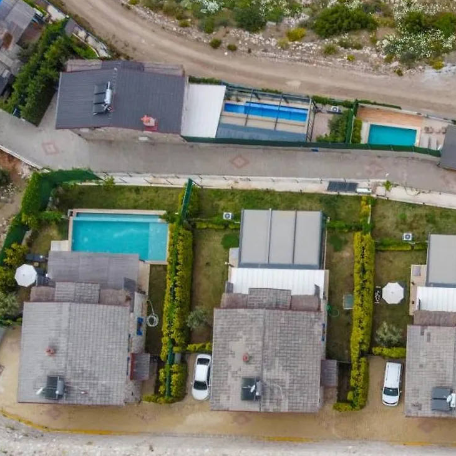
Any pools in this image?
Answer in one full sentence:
Yes, the frame does contain a pool.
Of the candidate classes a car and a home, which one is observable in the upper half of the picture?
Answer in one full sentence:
The feature located in the upper half of the picture is a home.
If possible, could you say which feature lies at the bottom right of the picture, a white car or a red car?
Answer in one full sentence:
You can see a white car at the bottom right of the picture.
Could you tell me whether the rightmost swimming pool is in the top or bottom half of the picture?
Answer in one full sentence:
Seen from above, the rightmost swimming pool lies in the top half of the view.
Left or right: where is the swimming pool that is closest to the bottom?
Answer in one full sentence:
You can find the swimming pool that is closest to the bottom on the left side of the picture.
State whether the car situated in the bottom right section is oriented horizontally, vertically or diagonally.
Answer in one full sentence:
Seen from above, the car situated in the bottom right section lies vertically.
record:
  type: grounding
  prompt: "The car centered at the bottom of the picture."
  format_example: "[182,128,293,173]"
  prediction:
[191,354,212,400]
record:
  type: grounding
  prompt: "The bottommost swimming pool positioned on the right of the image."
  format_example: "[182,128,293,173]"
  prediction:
[364,122,420,150]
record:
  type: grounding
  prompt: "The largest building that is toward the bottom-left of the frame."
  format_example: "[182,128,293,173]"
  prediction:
[18,282,150,406]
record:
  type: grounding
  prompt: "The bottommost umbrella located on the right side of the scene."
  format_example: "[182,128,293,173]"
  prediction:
[382,282,403,303]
